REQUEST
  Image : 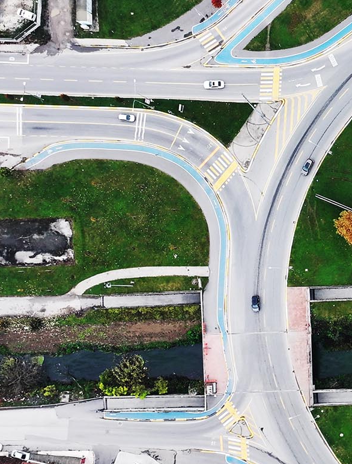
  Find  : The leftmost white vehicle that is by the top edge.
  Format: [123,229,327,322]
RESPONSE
[18,7,38,21]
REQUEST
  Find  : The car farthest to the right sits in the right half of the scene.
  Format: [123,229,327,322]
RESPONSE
[302,158,314,176]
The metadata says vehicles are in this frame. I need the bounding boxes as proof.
[12,449,32,459]
[117,114,136,123]
[203,80,225,89]
[302,158,314,176]
[18,7,38,21]
[251,294,260,312]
